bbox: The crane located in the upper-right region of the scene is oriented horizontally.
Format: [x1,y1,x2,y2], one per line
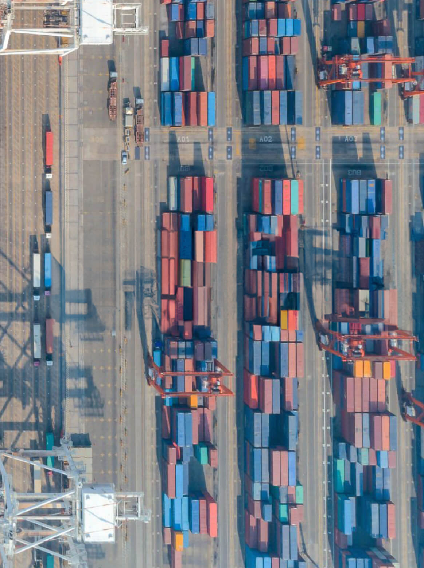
[319,53,415,90]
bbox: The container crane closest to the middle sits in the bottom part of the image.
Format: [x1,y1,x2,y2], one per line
[149,352,237,398]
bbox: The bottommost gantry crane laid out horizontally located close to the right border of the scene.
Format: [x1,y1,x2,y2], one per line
[320,317,418,363]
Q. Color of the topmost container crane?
white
